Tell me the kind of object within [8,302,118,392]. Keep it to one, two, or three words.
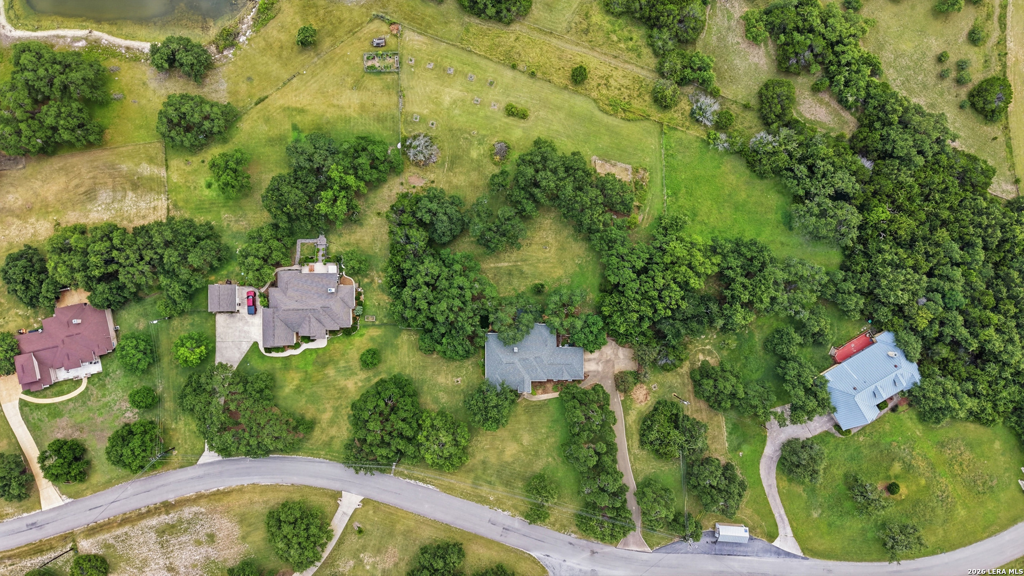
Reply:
house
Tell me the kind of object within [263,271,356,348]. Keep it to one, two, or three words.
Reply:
house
